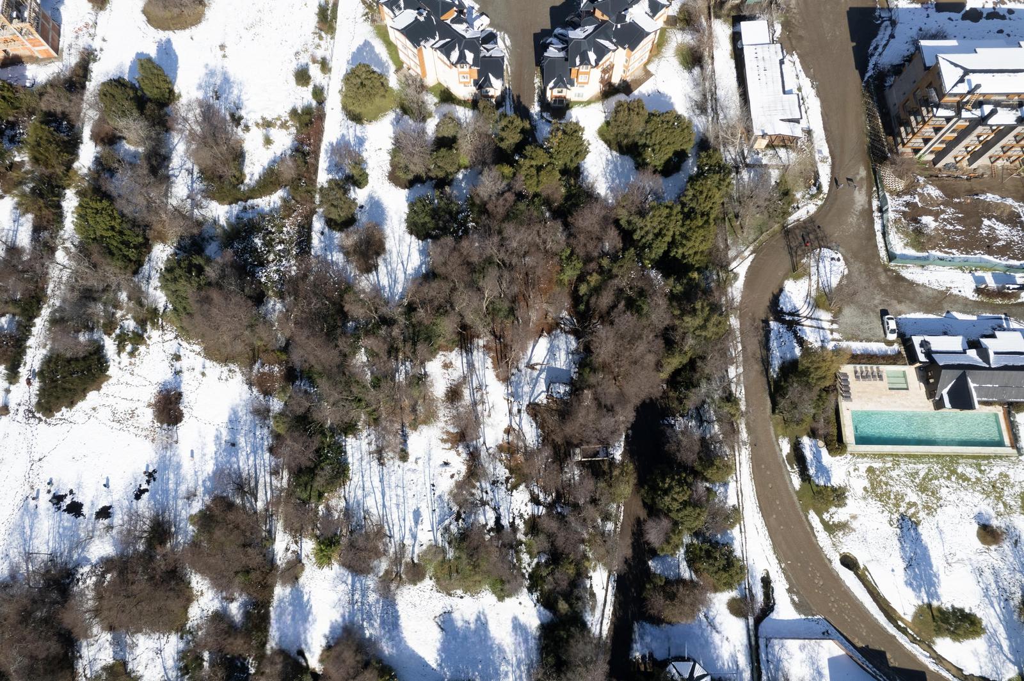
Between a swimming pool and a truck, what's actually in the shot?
swimming pool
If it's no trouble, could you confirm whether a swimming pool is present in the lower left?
No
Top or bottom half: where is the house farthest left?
top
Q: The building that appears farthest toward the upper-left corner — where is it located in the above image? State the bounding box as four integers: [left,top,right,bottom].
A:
[379,0,505,115]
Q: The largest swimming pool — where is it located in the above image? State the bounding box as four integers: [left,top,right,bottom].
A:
[850,409,1007,448]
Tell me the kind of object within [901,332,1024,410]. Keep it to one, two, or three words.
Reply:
building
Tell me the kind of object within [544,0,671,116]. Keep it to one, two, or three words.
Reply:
house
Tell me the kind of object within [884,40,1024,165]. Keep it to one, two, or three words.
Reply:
building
